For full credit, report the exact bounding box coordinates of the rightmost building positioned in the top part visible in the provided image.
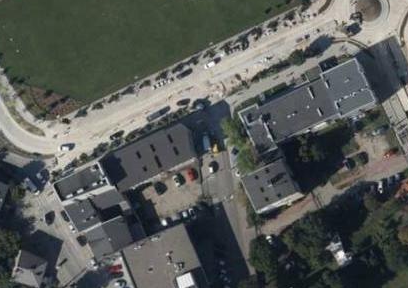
[235,59,376,156]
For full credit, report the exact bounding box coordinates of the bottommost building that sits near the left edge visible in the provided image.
[10,247,48,288]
